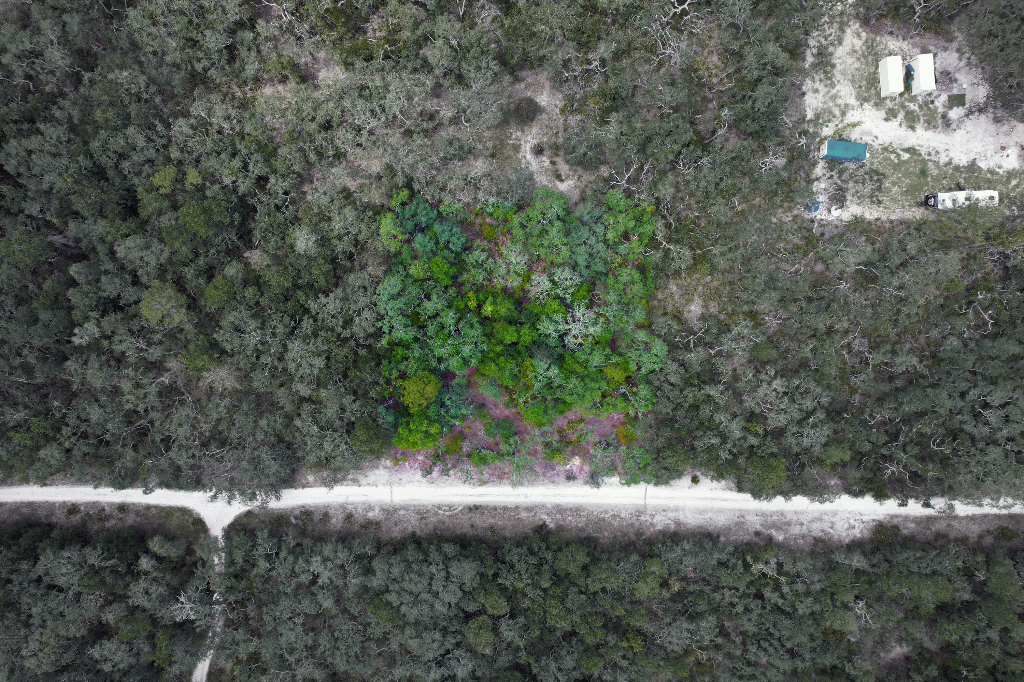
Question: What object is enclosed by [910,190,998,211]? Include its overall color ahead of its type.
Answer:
white camper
